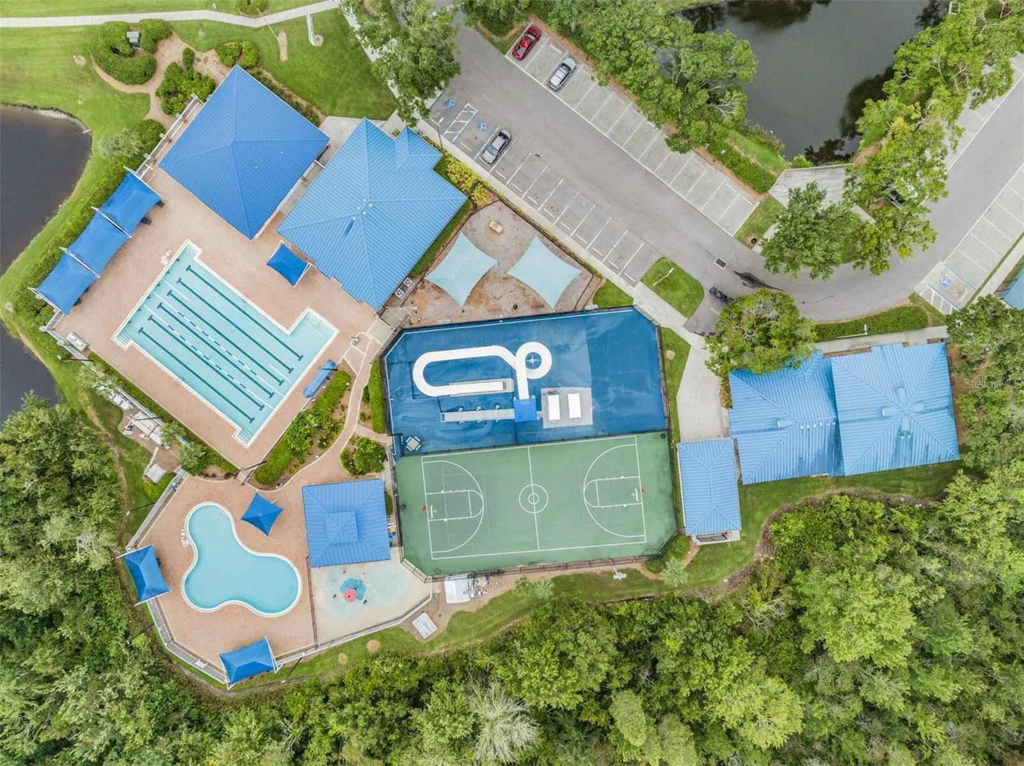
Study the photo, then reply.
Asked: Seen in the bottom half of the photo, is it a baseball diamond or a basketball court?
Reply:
basketball court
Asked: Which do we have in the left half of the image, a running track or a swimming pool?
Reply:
swimming pool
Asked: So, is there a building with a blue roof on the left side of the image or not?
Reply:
Yes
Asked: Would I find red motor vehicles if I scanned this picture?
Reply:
Yes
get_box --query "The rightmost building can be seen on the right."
[728,337,961,486]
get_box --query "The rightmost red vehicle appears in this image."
[511,26,542,64]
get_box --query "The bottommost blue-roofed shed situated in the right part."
[677,438,741,542]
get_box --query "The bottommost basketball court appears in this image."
[397,432,677,576]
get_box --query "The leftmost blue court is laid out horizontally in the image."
[383,306,666,460]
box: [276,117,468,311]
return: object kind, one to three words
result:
building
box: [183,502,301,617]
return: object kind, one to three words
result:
swimming pool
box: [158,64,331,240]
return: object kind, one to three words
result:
building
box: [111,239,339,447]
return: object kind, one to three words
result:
swimming pool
